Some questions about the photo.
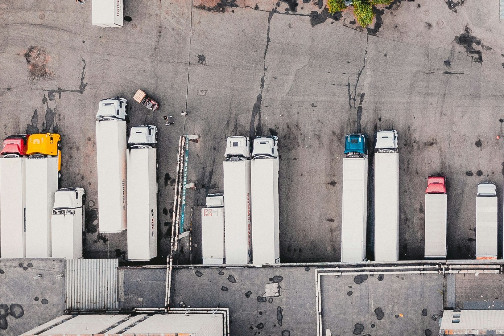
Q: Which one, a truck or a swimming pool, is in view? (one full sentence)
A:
I can see a truck in this picture.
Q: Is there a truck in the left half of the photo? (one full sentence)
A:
Yes, in the left half of the photo there is a truck.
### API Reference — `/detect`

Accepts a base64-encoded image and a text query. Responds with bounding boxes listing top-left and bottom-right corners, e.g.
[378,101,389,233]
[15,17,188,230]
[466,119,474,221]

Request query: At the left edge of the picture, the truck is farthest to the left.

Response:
[0,133,36,257]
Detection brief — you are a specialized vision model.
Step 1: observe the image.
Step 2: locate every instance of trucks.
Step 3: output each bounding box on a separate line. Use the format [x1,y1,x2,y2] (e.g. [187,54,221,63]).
[224,135,254,259]
[342,132,369,259]
[95,98,131,234]
[201,191,225,259]
[126,124,162,259]
[92,0,129,27]
[25,132,64,257]
[0,133,36,257]
[51,185,89,259]
[374,129,403,259]
[424,174,449,256]
[250,135,282,259]
[474,181,499,256]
